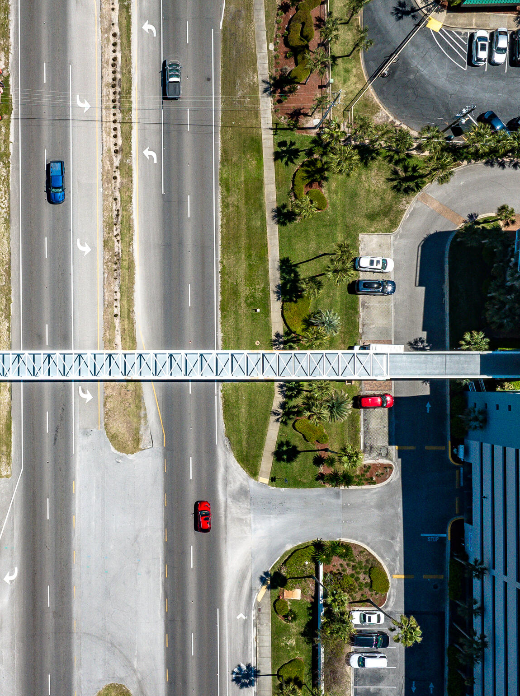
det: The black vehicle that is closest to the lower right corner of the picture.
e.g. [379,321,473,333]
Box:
[352,631,389,650]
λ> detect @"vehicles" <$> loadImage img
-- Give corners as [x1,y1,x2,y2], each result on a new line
[350,341,405,351]
[351,651,388,671]
[469,30,490,66]
[510,113,520,129]
[512,29,520,67]
[166,60,183,101]
[47,160,66,204]
[358,393,393,410]
[355,255,393,274]
[194,500,212,532]
[478,109,510,138]
[357,278,395,296]
[352,631,389,650]
[349,609,384,627]
[490,28,510,66]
